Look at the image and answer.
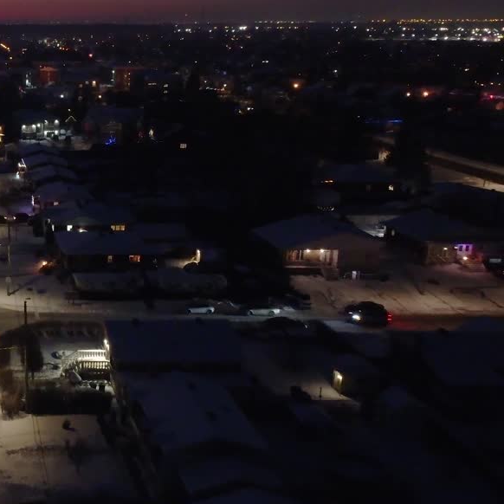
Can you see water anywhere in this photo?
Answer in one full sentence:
No, the scene doesn't show any water.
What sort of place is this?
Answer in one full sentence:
It's a residential area.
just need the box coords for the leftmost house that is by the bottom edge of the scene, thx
[122,385,295,496]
